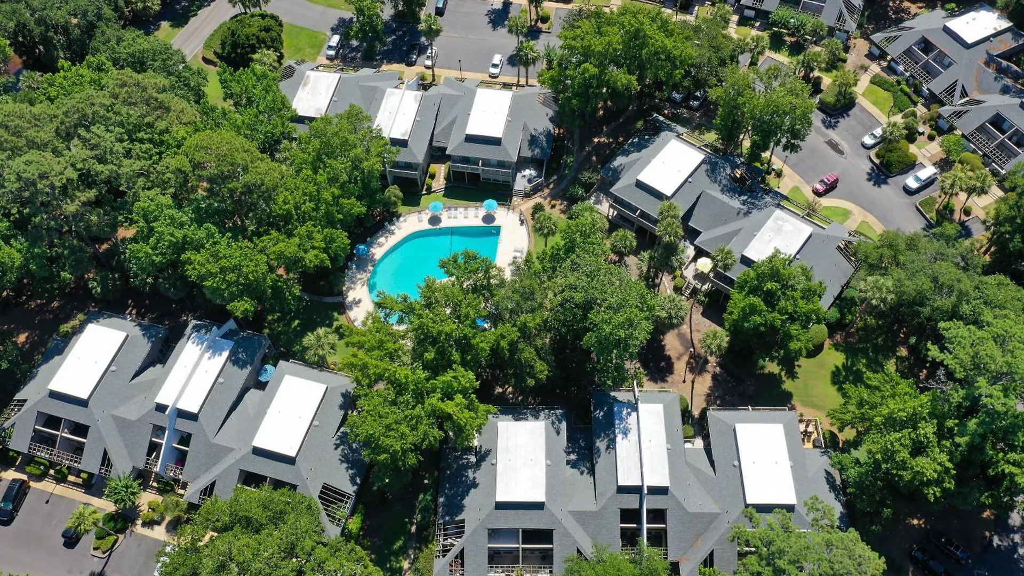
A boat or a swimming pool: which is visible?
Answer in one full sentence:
Visible in the photo is a swimming pool.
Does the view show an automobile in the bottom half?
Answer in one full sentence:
Yes, an automobile appears in the bottom half.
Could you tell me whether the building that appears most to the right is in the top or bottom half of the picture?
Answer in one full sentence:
The building that appears most to the right is in the top half of the image.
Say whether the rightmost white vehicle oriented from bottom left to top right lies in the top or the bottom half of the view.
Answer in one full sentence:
The rightmost white vehicle oriented from bottom left to top right is in the top half of the image.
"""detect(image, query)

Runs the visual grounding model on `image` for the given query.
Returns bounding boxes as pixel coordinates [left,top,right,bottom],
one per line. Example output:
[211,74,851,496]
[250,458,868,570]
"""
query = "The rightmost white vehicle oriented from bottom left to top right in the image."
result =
[902,161,941,191]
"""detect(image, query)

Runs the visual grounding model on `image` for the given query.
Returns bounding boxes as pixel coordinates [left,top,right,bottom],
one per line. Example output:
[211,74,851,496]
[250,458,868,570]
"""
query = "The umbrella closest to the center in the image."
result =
[482,201,499,214]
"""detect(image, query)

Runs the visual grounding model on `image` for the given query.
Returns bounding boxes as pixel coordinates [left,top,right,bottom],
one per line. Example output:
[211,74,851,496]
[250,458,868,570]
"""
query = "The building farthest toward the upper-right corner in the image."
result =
[870,5,1024,176]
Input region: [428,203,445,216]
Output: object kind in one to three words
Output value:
umbrella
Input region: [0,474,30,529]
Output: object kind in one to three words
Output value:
car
